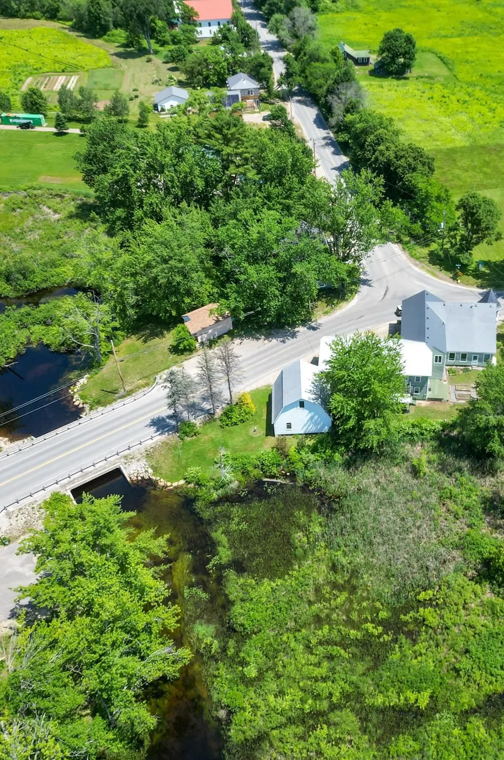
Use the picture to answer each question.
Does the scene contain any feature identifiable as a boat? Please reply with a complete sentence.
No, I can see no boat in this picture.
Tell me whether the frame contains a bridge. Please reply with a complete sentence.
Yes, a bridge can be made out from above.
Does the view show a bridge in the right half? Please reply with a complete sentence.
No, there is no bridge in the right half.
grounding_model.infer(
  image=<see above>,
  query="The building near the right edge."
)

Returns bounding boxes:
[315,284,498,405]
